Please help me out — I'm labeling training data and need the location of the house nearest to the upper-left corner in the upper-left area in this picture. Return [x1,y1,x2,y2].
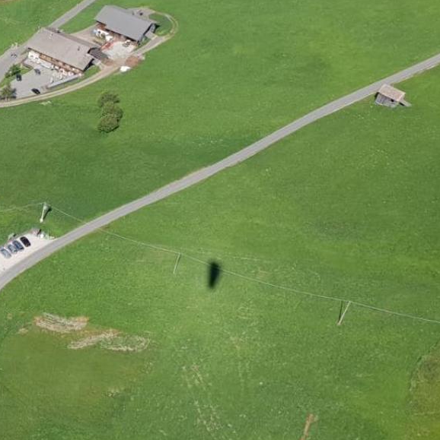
[23,29,101,71]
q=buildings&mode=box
[90,5,153,43]
[23,29,101,71]
[373,84,409,108]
